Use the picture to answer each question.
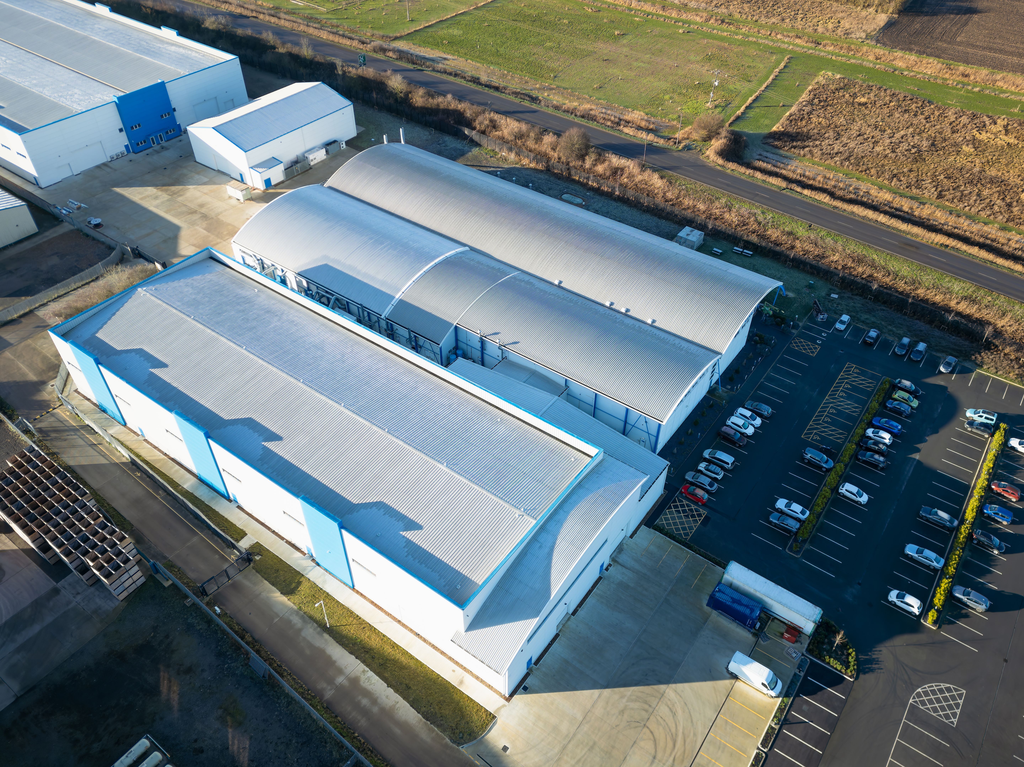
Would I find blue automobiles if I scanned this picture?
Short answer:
Yes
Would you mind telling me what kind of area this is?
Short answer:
industrial area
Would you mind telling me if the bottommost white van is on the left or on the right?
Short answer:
right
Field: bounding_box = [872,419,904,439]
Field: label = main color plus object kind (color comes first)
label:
blue car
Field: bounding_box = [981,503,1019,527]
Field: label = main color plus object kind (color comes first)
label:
blue car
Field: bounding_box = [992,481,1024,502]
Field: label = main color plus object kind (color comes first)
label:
red car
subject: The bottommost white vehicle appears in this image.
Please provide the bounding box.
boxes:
[723,648,784,700]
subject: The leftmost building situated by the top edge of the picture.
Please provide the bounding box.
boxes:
[0,0,249,188]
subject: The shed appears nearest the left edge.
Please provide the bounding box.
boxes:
[0,188,38,248]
